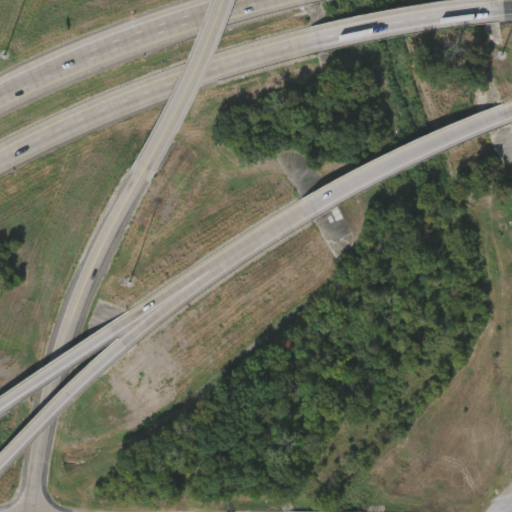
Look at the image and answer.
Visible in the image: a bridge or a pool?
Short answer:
bridge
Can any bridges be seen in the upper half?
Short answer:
Yes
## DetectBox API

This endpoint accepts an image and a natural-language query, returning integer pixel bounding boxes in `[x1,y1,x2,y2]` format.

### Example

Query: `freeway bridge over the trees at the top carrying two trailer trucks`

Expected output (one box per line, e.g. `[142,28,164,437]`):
[308,0,502,72]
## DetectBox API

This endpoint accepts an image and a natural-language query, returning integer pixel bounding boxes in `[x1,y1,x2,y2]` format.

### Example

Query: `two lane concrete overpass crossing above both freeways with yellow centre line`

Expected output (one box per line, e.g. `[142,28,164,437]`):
[129,0,235,184]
